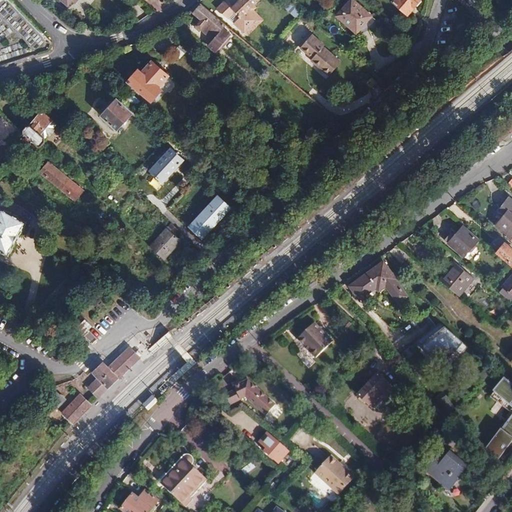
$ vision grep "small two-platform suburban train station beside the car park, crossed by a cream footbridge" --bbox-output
[58,324,236,452]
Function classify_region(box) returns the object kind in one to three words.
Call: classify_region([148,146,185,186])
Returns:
house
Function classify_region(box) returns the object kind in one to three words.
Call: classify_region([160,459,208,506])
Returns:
house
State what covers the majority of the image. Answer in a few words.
trees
